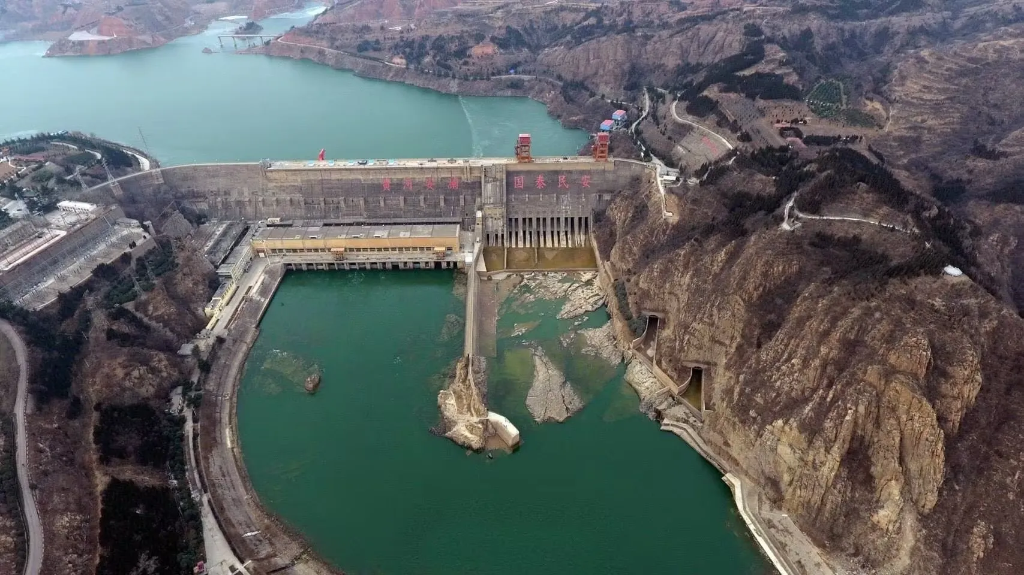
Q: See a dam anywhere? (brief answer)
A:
Yes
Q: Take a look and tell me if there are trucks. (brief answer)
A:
No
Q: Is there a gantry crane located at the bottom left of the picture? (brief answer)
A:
No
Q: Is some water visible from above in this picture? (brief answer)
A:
Yes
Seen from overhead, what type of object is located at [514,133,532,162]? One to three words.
container crane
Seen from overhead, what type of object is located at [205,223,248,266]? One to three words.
building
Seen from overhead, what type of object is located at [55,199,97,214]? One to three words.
building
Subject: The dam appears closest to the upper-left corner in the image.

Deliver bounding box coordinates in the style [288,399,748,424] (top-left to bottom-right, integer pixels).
[74,154,660,248]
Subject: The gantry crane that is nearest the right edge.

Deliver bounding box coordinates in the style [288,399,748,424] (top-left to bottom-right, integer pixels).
[592,132,611,161]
